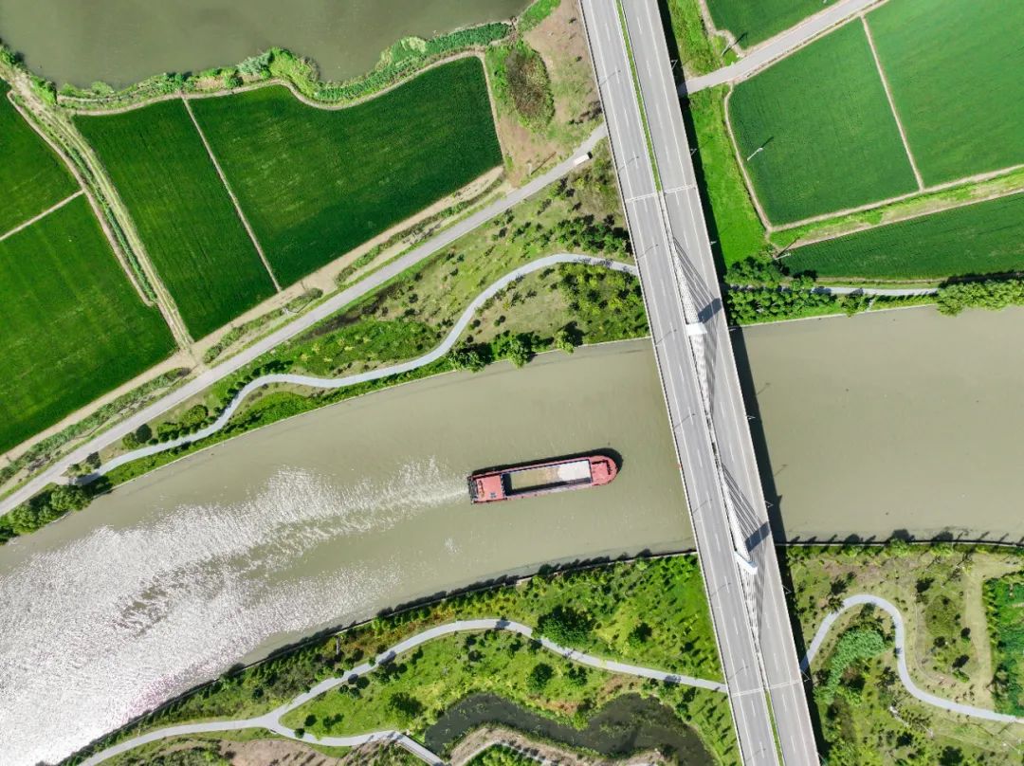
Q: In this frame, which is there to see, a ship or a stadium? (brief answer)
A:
ship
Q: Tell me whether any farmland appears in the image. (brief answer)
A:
Yes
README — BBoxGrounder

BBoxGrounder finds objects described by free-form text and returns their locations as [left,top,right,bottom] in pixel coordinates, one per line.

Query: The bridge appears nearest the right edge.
[579,0,821,766]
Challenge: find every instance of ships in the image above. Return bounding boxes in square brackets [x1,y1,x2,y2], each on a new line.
[467,459,620,507]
